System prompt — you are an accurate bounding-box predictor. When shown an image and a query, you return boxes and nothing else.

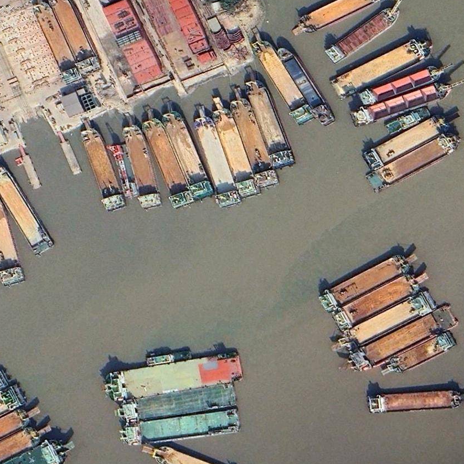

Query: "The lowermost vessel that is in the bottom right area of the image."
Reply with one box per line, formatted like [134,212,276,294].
[370,391,464,413]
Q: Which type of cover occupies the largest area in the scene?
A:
water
